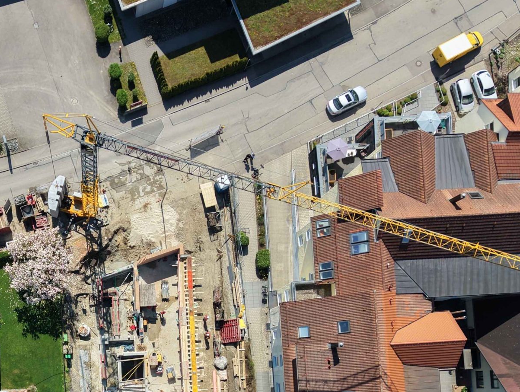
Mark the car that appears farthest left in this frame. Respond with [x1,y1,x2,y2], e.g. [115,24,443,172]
[323,86,369,116]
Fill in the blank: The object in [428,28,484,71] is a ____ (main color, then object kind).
white truck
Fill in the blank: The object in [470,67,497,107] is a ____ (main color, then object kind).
white car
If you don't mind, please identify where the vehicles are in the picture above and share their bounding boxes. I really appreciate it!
[450,78,474,118]
[470,67,497,107]
[428,28,484,71]
[323,86,369,116]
